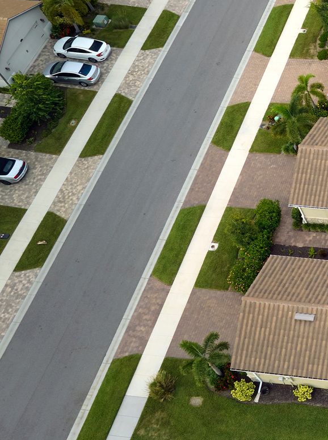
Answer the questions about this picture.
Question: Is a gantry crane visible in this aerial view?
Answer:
No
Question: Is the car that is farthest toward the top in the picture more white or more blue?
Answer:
white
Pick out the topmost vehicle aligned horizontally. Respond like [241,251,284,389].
[50,36,118,64]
